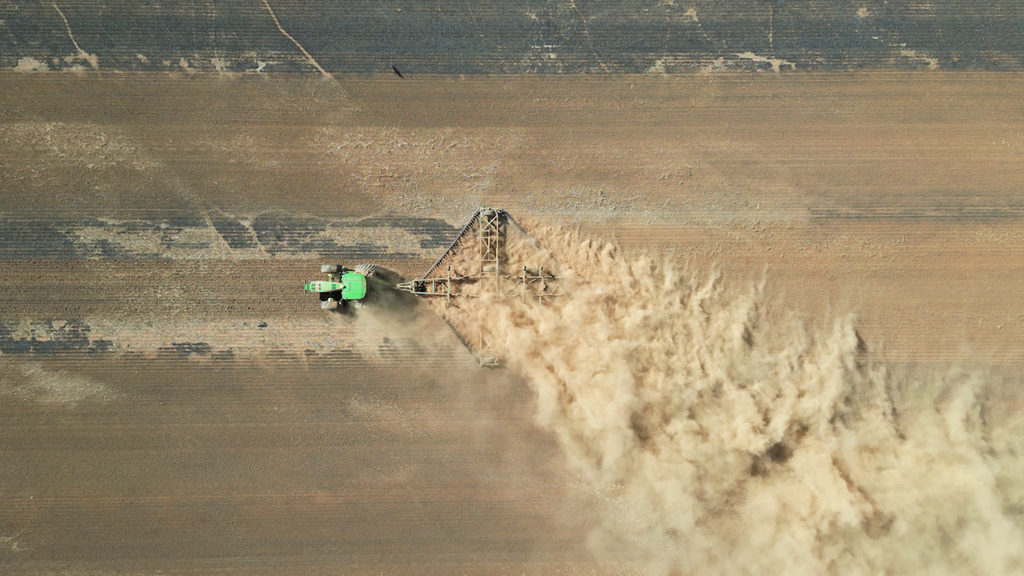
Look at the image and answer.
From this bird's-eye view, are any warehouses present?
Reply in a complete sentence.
No, there appears to be no warehouse in this shot.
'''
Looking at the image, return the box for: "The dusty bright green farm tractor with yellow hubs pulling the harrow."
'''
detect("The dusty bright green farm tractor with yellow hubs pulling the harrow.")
[304,259,386,311]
